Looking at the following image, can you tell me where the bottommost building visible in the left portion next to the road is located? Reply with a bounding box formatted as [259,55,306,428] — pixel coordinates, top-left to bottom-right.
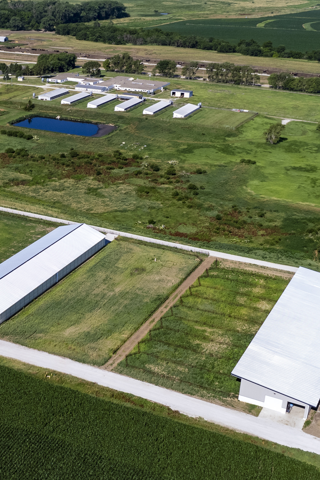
[0,222,107,325]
